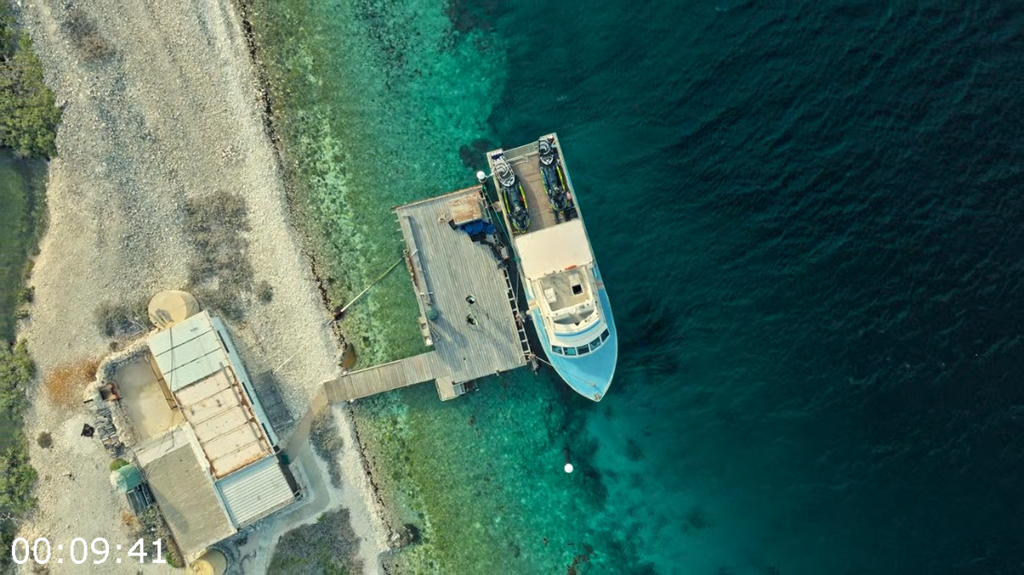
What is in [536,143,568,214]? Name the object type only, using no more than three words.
boat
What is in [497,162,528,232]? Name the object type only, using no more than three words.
boat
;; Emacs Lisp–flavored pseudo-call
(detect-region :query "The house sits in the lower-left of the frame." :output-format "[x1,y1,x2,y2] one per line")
[135,311,297,560]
